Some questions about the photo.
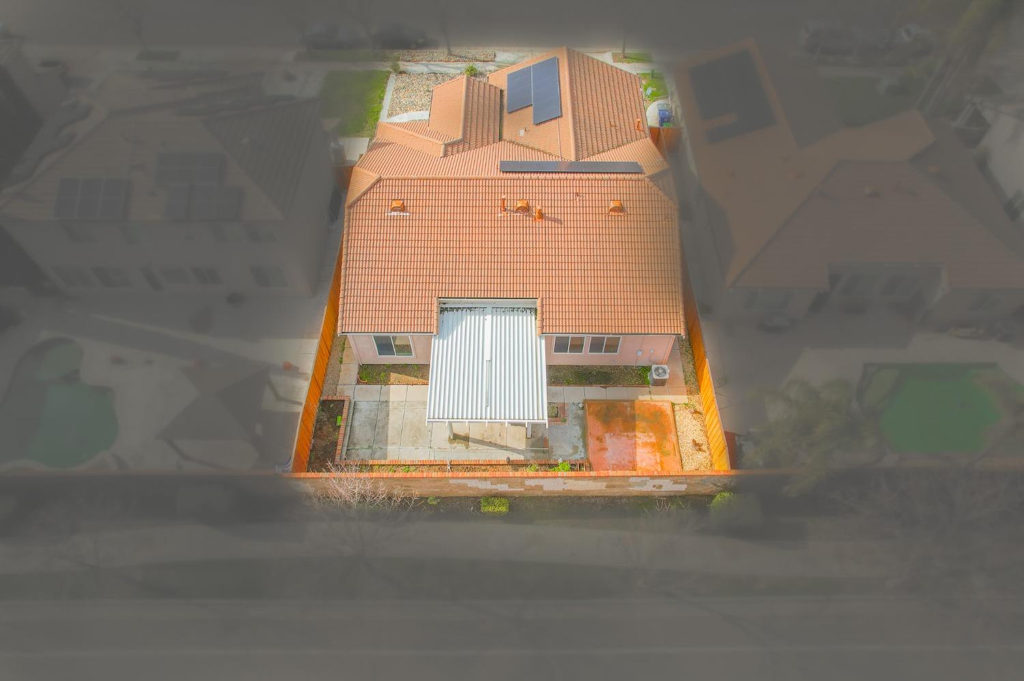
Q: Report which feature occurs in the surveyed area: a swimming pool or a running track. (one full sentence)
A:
The image shows a swimming pool.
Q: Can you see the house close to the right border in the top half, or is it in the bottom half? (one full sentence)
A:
Seen from above, the house close to the right border lies in the top half of the view.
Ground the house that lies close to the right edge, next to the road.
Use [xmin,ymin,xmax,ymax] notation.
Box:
[673,33,1024,322]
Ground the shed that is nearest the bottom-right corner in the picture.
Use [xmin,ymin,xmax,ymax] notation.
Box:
[716,432,748,472]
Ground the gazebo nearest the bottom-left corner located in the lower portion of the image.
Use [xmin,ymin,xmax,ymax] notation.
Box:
[157,367,284,460]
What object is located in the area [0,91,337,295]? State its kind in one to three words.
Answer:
house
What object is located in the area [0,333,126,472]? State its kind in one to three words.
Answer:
swimming pool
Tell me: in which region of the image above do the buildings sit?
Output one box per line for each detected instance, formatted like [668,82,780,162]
[336,46,688,366]
[716,432,748,472]
[673,33,1024,322]
[0,91,337,295]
